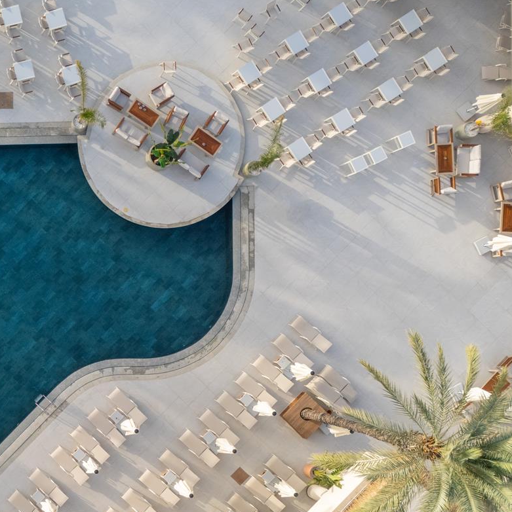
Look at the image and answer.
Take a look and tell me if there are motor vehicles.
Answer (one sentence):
No, there's no motor vehicle here.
